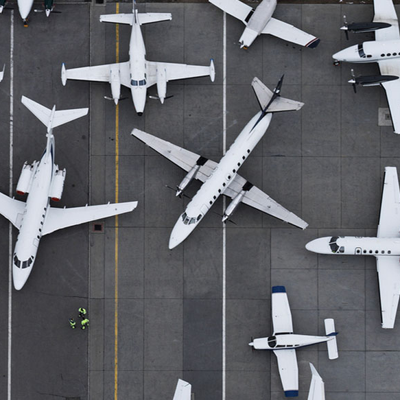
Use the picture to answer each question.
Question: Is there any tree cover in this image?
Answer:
No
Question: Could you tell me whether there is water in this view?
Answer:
No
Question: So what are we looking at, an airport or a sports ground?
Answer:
airport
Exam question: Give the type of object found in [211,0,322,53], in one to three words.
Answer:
airplane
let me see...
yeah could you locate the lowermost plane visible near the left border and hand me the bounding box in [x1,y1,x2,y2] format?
[0,94,134,291]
